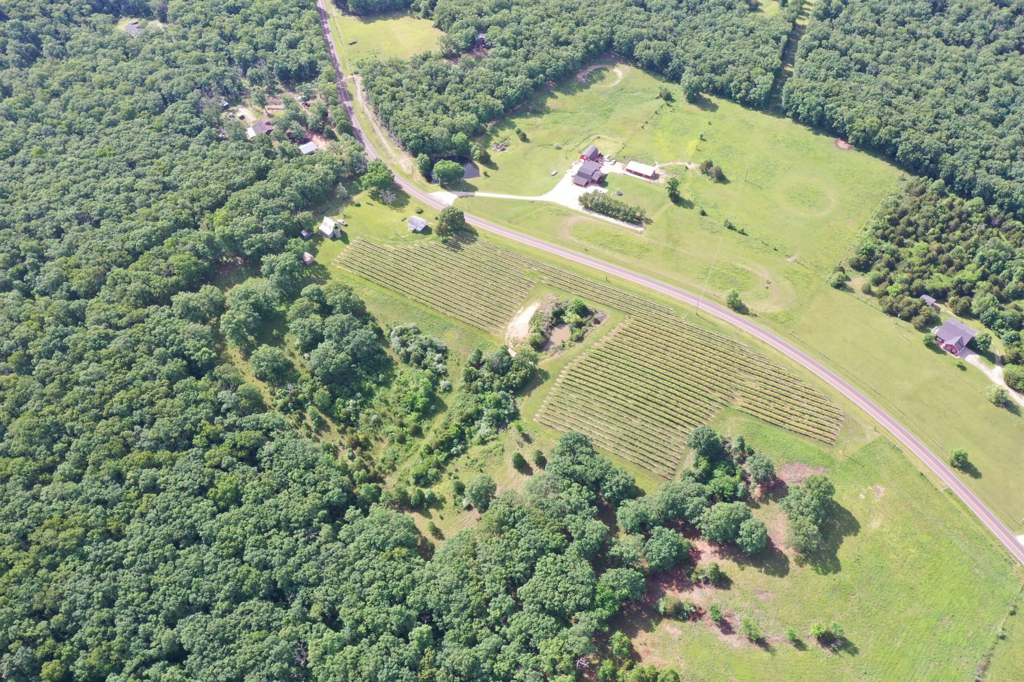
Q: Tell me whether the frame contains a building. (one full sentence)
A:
Yes, a building is visible in the scene.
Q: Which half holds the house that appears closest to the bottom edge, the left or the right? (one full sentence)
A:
The house that appears closest to the bottom edge appears in the right half of the scene.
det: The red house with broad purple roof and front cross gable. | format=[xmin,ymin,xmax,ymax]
[932,318,978,355]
